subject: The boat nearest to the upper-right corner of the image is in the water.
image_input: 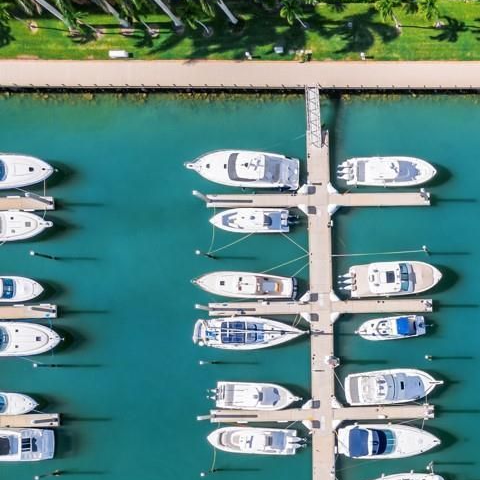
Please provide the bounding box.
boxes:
[340,155,437,190]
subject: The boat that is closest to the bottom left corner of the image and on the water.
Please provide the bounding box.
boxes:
[0,429,56,461]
